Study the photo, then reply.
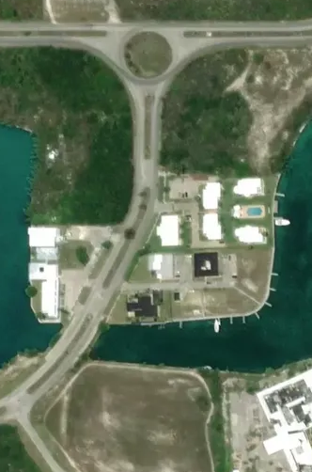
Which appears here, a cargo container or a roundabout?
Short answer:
roundabout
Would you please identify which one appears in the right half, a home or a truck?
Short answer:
home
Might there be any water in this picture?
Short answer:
Yes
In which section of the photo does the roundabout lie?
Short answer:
top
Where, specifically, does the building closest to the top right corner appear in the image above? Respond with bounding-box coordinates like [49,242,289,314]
[234,178,263,197]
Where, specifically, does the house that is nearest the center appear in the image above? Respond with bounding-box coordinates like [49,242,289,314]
[157,215,180,246]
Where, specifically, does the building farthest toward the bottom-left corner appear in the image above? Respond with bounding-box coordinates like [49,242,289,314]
[29,262,60,318]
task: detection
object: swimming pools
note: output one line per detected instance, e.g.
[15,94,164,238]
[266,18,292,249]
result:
[240,205,265,217]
